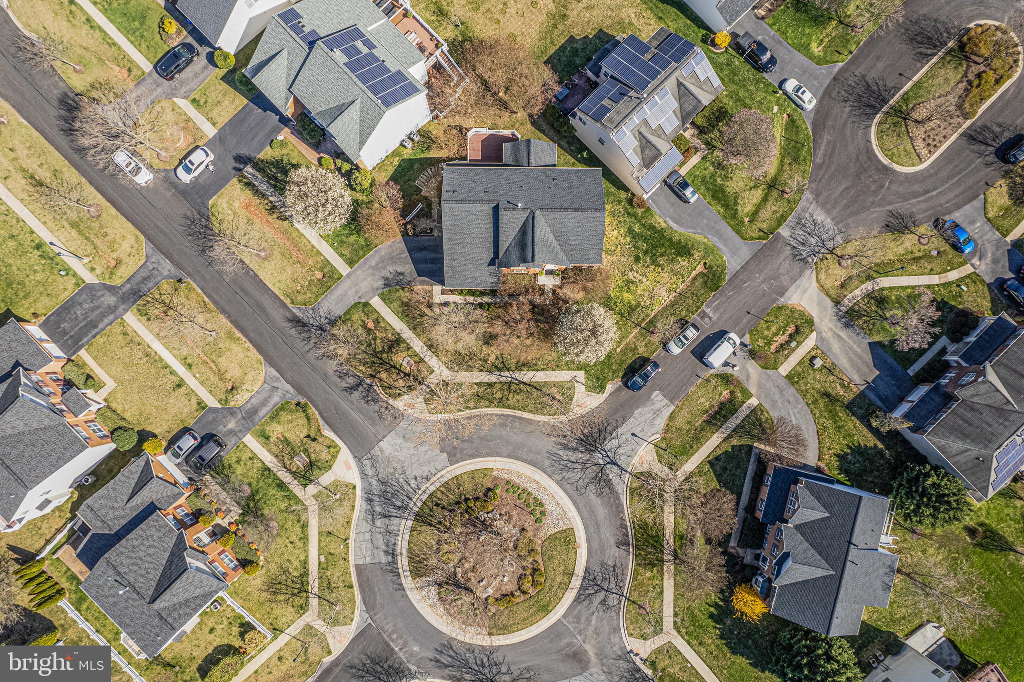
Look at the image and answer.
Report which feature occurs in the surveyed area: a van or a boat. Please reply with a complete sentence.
The one in the frame is a van.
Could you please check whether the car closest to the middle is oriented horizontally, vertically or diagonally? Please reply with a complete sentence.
What the image shows is the car closest to the middle lying diagonally.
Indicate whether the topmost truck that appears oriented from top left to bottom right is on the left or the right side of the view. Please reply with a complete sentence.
The topmost truck that appears oriented from top left to bottom right appears in the right half of the scene.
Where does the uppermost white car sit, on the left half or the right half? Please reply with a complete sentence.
The uppermost white car appears in the right half of the scene.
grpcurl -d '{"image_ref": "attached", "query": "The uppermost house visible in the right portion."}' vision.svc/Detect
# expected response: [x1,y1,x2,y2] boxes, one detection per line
[684,0,757,34]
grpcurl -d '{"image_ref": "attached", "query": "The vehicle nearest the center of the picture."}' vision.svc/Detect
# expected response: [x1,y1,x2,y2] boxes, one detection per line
[625,356,666,396]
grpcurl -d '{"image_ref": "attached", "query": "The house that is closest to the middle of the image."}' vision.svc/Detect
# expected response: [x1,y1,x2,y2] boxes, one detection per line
[440,139,606,290]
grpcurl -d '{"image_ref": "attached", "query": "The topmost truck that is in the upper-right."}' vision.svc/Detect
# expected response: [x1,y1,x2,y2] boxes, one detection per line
[731,26,778,77]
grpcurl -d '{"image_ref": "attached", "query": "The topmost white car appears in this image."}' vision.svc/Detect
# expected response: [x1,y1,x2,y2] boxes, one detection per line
[777,76,820,115]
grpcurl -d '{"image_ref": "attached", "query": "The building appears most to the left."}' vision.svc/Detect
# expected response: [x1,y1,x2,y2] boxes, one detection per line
[0,318,113,538]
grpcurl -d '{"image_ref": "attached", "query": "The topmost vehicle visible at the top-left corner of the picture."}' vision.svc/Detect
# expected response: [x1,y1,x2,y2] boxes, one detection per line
[150,43,201,82]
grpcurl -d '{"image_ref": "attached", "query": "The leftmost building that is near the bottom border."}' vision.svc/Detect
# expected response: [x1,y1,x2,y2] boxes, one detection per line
[77,452,244,661]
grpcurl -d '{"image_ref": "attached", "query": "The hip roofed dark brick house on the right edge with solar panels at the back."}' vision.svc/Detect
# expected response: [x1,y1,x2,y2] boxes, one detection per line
[889,311,1024,503]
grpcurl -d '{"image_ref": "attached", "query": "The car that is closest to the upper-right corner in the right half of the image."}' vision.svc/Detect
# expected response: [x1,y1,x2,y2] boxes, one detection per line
[1001,139,1024,166]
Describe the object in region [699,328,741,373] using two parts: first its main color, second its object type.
white van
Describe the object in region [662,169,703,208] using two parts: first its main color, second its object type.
gray car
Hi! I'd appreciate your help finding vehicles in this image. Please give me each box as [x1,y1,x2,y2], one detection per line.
[663,318,704,358]
[176,145,215,183]
[997,275,1024,316]
[110,149,155,187]
[625,356,666,396]
[699,328,741,373]
[1001,139,1024,166]
[662,169,703,208]
[165,428,203,465]
[777,76,820,115]
[189,435,227,473]
[150,43,201,82]
[731,26,778,77]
